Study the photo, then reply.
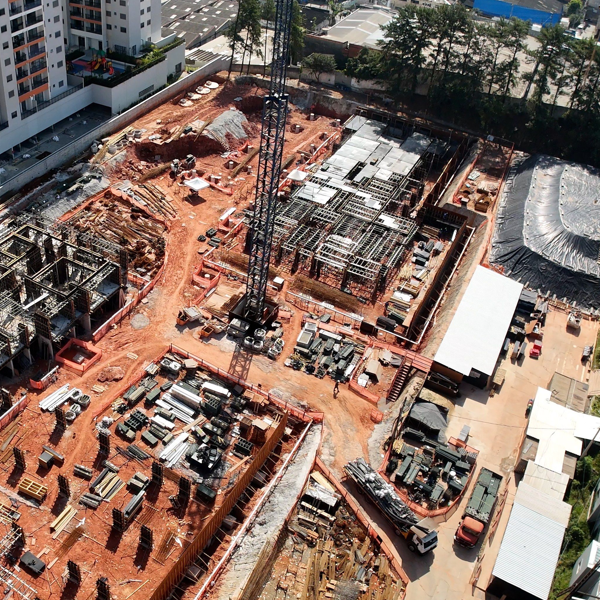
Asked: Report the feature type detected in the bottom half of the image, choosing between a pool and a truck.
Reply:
truck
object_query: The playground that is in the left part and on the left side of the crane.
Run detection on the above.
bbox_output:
[67,39,132,79]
